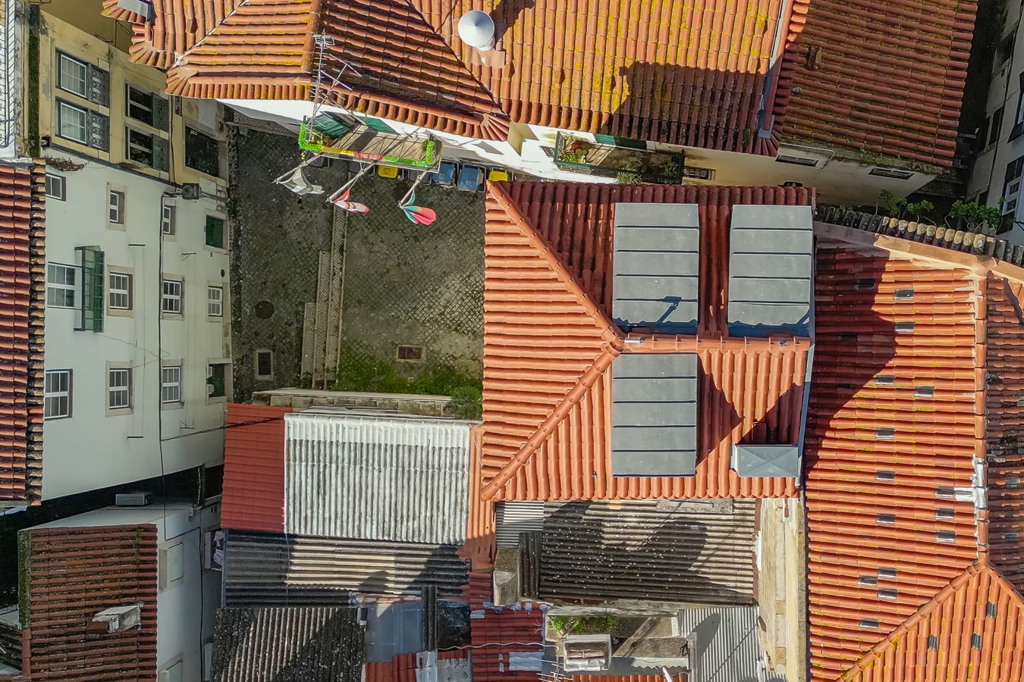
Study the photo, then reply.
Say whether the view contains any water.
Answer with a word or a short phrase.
No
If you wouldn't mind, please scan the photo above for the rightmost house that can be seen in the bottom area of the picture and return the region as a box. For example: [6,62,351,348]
[804,207,1024,682]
